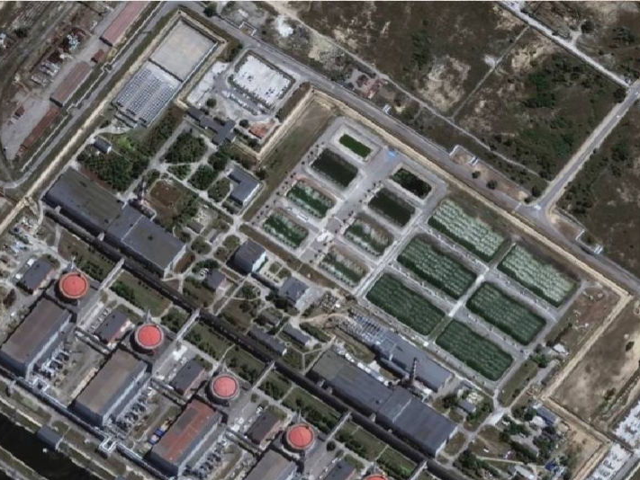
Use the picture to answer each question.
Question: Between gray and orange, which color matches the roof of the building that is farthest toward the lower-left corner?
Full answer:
The roof of the building that is farthest toward the lower-left corner is gray.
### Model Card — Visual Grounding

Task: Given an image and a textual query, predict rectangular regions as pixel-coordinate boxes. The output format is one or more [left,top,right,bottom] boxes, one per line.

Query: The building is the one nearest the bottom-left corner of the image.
[34,425,70,453]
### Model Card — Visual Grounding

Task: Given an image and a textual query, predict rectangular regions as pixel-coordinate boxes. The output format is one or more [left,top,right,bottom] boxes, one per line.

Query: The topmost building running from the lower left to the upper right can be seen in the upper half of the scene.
[99,0,147,47]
